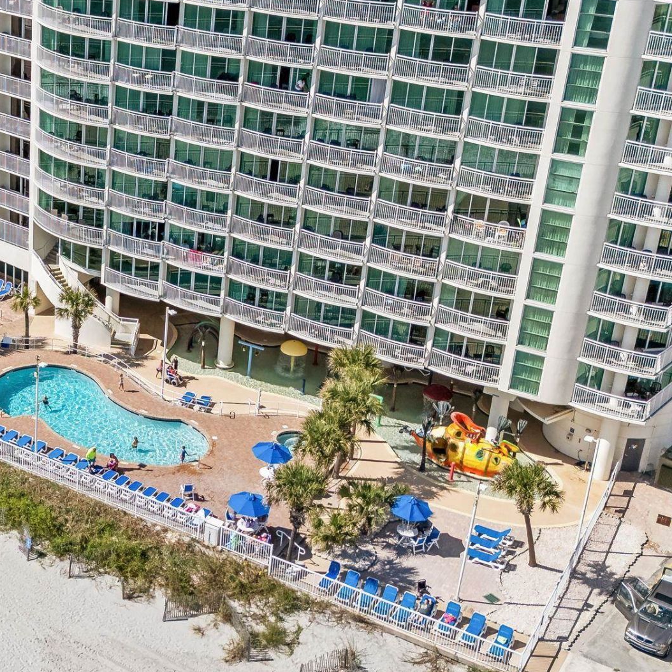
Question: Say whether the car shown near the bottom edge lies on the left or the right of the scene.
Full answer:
The car shown near the bottom edge is on the right side of the image.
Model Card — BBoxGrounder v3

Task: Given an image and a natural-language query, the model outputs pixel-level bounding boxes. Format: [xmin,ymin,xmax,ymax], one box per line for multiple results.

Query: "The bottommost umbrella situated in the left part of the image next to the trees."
[226,493,275,525]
